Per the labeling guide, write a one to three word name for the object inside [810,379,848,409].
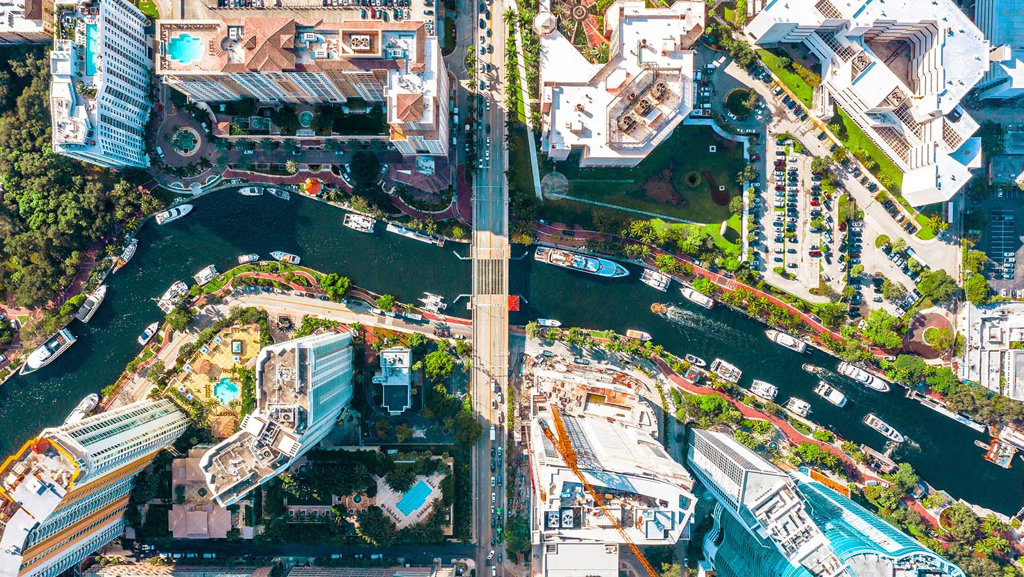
boat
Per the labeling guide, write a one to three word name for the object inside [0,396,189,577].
building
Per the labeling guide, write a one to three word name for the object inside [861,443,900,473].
pier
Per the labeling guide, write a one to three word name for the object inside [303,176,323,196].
gazebo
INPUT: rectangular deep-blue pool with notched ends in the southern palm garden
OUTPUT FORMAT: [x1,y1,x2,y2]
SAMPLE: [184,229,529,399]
[395,479,434,516]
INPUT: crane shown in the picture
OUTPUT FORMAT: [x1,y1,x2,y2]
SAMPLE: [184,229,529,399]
[540,400,660,577]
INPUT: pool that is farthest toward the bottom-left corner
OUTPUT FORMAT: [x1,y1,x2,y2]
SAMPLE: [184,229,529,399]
[213,376,239,405]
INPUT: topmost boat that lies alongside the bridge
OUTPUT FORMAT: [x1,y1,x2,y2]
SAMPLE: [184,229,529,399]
[531,247,630,273]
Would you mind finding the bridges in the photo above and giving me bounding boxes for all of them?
[470,166,511,443]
